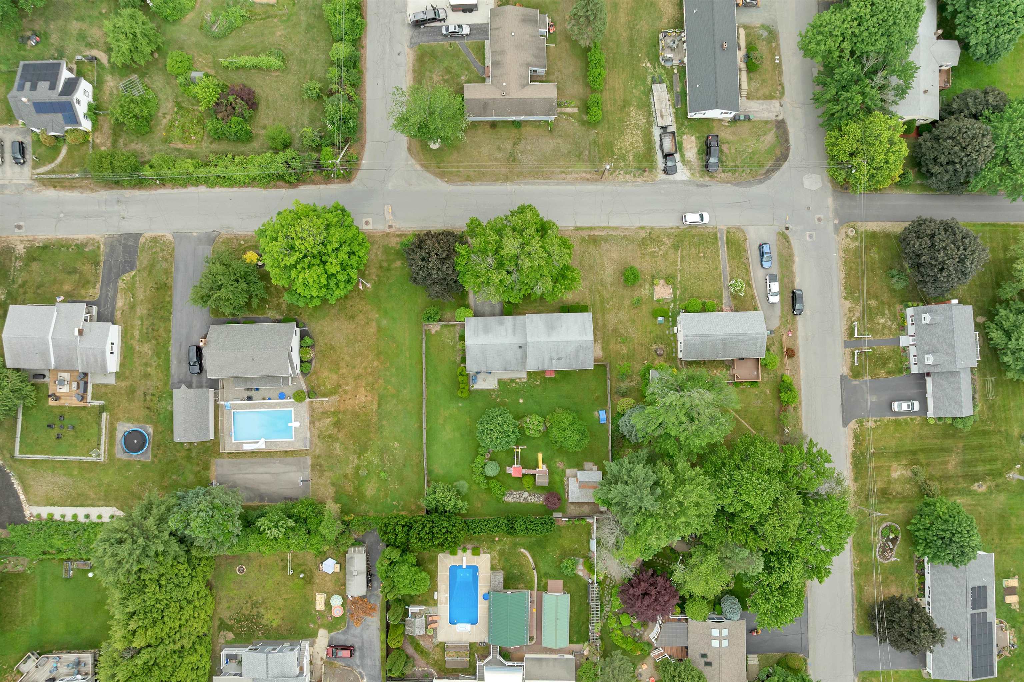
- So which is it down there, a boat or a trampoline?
trampoline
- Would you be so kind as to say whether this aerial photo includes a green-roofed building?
Yes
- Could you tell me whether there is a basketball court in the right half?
No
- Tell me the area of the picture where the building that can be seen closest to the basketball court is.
left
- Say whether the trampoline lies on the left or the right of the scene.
left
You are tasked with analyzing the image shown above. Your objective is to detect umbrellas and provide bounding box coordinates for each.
[322,559,337,574]
[330,594,343,607]
[332,605,344,618]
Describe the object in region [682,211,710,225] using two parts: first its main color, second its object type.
white car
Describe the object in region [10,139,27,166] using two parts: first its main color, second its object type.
gray car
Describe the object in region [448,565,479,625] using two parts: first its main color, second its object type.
blue swimming pool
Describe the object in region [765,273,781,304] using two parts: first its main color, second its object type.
white vehicle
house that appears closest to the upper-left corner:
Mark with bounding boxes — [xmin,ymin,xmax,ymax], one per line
[0,60,95,138]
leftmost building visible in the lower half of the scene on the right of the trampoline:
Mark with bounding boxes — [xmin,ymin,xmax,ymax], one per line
[173,384,216,443]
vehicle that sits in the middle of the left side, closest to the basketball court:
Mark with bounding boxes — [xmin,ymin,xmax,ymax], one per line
[188,346,203,374]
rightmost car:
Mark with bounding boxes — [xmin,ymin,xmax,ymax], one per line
[890,400,919,413]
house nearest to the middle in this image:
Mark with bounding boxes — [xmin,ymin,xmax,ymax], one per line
[465,312,594,377]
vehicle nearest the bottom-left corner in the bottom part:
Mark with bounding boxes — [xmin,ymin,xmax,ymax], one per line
[326,645,354,659]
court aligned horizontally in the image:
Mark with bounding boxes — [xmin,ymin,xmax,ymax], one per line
[216,457,310,503]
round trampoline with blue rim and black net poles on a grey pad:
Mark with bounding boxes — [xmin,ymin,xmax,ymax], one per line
[117,429,150,456]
